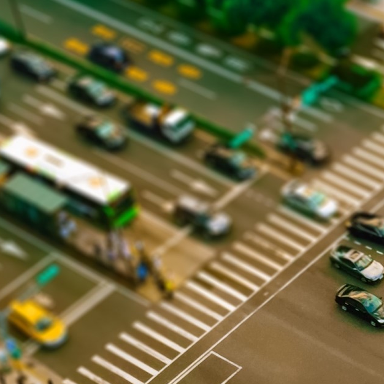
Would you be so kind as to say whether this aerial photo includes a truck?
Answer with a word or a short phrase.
Yes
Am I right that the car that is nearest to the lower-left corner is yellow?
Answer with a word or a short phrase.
Yes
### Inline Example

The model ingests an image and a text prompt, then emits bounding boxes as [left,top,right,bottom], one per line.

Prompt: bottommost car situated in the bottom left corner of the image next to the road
[0,297,69,348]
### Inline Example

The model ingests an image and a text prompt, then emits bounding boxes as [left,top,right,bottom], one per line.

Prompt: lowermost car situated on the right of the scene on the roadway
[329,285,384,332]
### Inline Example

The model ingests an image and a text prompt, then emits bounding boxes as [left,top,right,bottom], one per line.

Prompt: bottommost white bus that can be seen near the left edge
[0,132,143,233]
